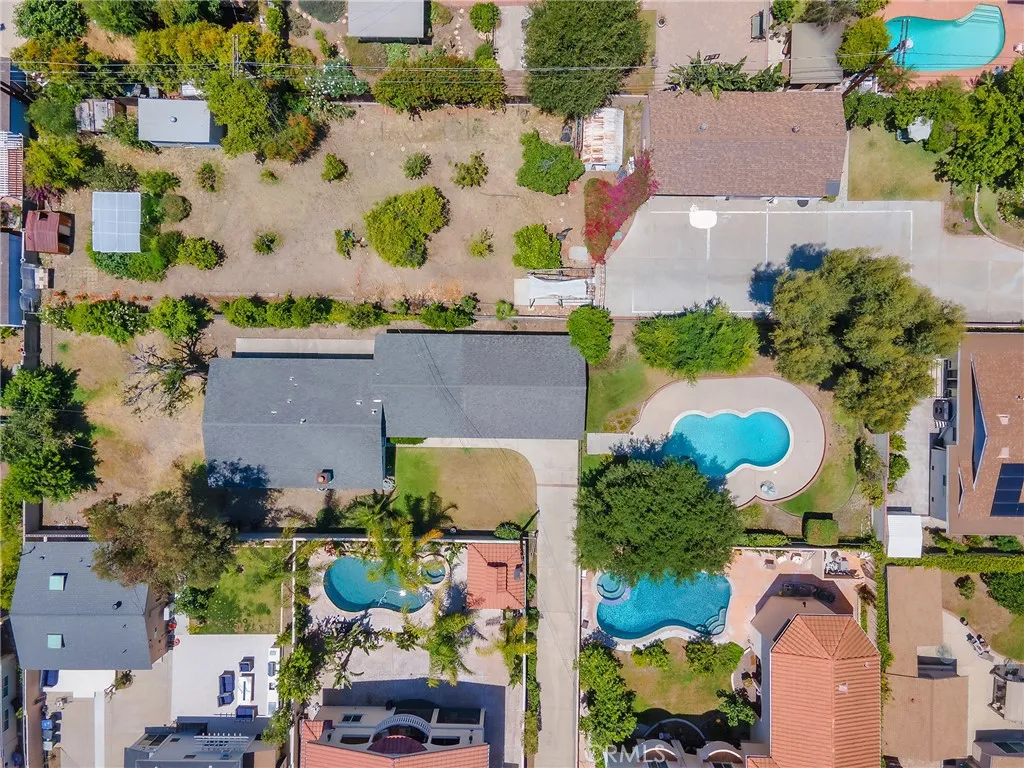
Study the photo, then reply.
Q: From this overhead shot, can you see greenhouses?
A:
Yes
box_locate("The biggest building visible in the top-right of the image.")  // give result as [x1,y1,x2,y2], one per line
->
[649,92,848,205]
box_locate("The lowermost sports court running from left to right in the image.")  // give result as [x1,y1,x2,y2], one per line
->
[606,190,1024,322]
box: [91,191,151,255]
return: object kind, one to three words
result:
greenhouse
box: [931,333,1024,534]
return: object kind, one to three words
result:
house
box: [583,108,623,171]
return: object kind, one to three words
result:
shed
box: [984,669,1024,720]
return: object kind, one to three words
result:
gazebo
